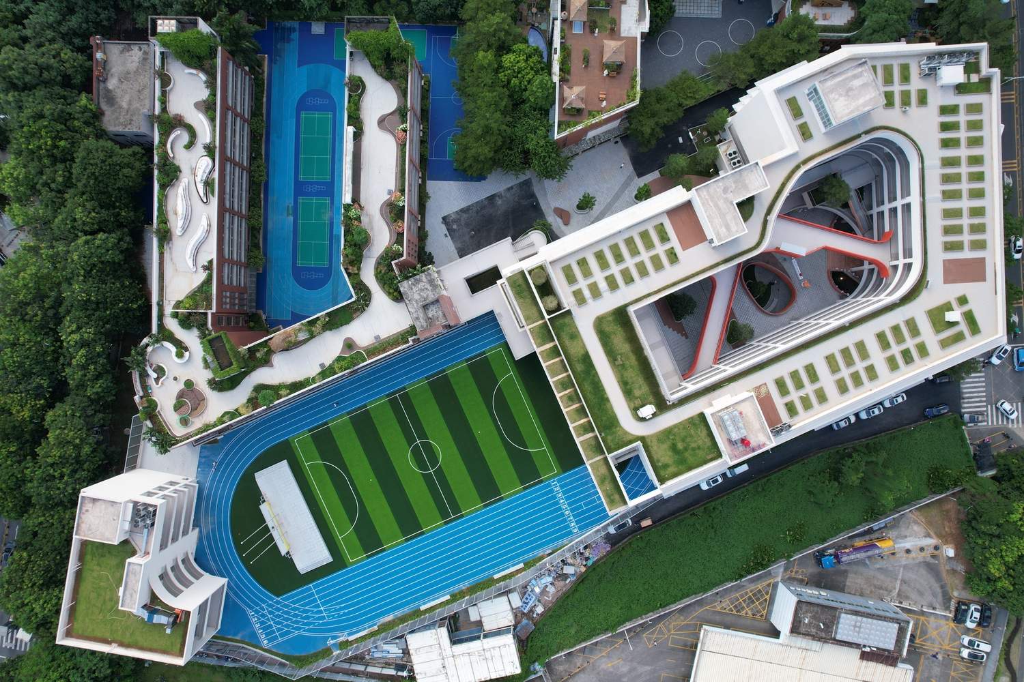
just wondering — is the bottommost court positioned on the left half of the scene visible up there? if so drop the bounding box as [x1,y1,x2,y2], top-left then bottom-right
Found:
[297,197,330,267]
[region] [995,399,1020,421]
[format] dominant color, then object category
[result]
white car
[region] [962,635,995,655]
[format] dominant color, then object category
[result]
white vehicle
